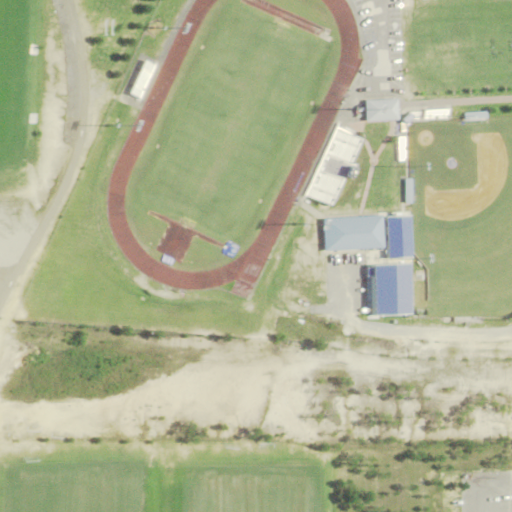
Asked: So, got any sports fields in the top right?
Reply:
Yes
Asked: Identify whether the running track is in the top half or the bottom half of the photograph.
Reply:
top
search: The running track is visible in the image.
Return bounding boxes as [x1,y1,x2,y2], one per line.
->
[109,0,363,299]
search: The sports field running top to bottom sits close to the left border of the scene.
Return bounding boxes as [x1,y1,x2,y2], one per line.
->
[0,0,30,163]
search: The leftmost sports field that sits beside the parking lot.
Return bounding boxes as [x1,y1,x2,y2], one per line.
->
[125,0,341,272]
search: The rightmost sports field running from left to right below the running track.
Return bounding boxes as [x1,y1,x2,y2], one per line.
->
[182,458,330,512]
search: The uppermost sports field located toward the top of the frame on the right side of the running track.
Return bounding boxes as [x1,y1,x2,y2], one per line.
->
[412,0,512,86]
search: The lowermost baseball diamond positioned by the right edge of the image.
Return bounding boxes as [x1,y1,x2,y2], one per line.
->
[408,114,512,318]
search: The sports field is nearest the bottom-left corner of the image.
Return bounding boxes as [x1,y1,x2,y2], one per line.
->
[0,456,148,512]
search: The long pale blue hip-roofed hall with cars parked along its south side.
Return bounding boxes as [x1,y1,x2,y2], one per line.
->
[323,216,386,250]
